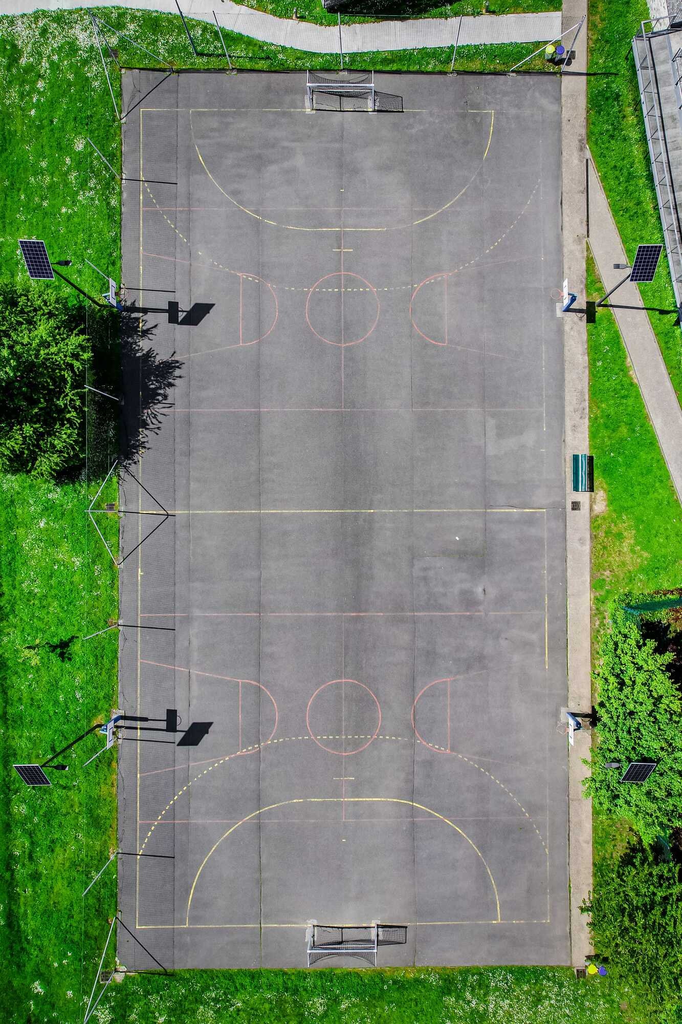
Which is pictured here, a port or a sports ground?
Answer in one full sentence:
What you see here is a sports ground.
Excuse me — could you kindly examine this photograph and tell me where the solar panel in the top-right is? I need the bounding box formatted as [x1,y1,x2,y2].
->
[628,240,665,280]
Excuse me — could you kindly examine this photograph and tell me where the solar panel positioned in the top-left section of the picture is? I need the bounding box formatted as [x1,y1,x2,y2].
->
[17,239,56,278]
